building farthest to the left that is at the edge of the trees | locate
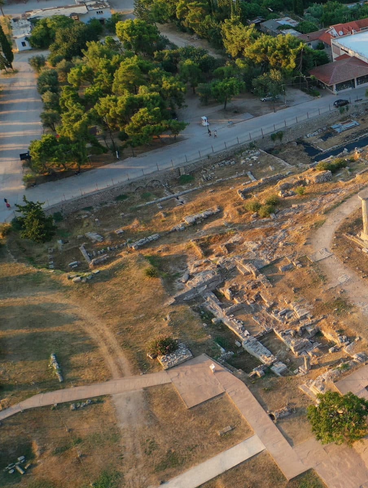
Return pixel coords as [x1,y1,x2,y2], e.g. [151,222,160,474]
[10,16,35,50]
